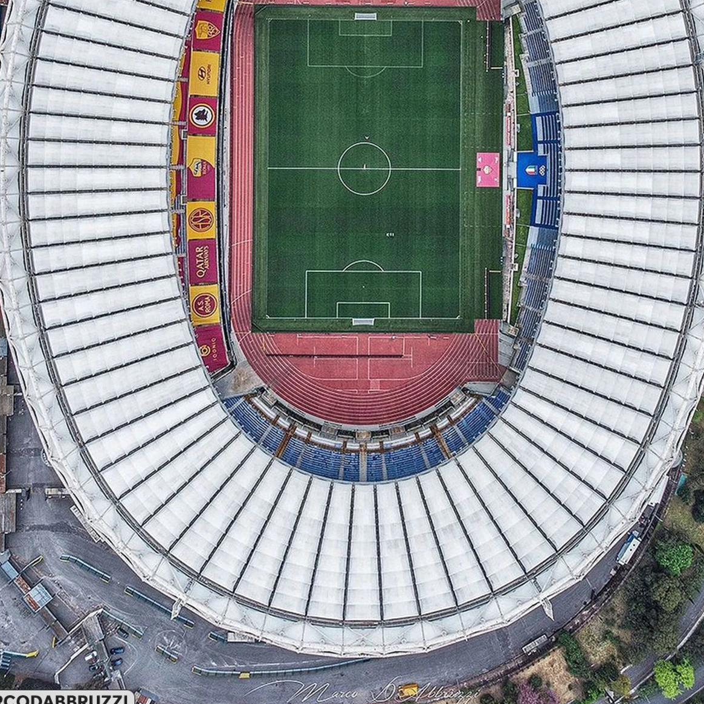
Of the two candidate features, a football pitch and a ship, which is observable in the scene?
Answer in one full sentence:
Of the two, only a football pitch appears.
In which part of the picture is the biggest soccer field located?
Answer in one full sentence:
The biggest soccer field appears toward the top of the photo.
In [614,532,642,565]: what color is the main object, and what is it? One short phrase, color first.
white truck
